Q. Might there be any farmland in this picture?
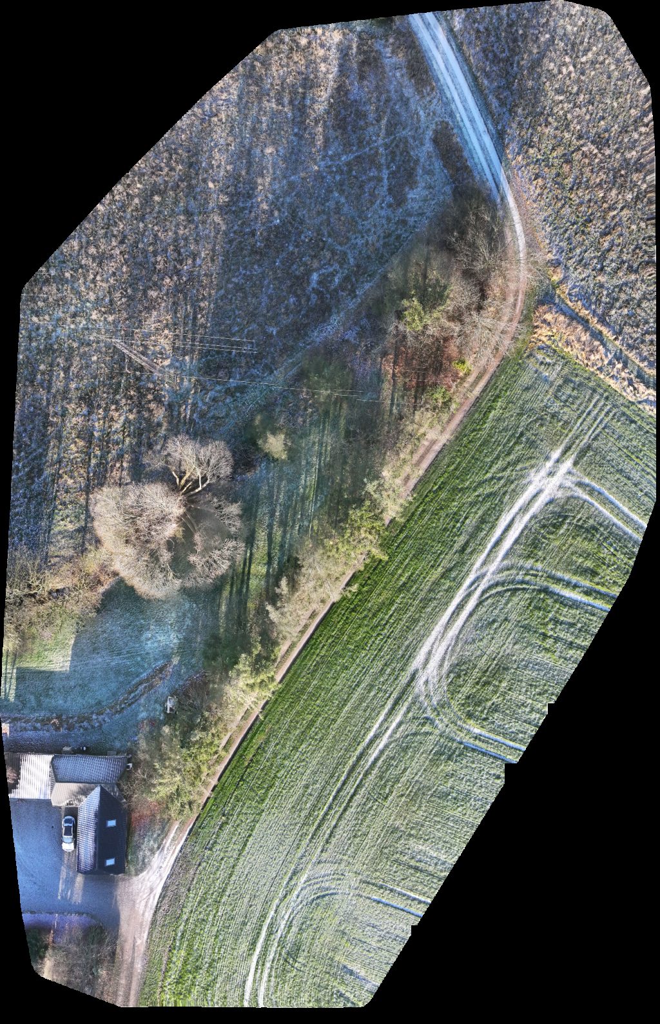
Yes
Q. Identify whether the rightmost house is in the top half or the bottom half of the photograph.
bottom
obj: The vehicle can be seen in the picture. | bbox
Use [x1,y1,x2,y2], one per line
[59,814,77,851]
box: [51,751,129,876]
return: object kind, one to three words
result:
house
